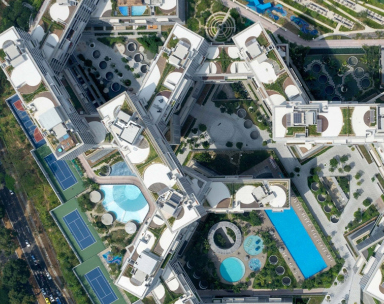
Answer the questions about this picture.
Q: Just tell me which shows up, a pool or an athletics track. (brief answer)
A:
pool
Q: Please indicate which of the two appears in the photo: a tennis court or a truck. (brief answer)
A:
tennis court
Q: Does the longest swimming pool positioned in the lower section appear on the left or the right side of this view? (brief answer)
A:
right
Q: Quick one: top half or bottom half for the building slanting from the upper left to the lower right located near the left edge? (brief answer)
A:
top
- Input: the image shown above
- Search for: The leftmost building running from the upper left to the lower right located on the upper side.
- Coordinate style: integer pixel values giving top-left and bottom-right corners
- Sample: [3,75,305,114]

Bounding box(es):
[0,26,96,160]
